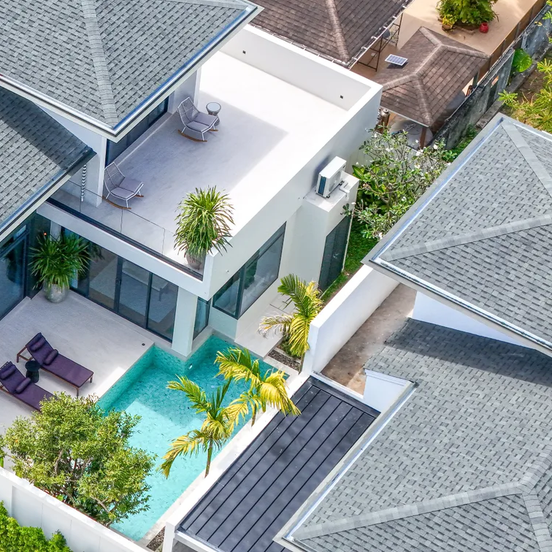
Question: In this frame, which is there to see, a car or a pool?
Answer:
pool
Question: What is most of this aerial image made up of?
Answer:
buildings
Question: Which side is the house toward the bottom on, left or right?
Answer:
right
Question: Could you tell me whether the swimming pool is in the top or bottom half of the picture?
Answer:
bottom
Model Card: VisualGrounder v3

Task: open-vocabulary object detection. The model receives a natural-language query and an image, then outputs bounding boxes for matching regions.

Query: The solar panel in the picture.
[384,51,409,68]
